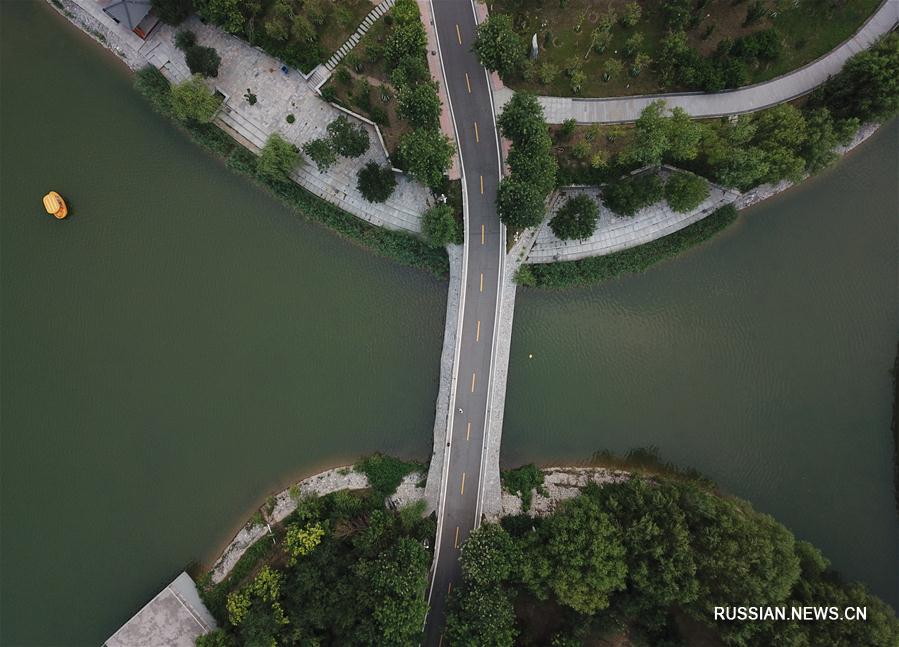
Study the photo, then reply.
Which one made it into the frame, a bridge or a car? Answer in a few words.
bridge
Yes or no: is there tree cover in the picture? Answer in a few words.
Yes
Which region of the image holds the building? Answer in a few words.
top left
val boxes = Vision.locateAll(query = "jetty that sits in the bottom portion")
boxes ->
[100,567,225,647]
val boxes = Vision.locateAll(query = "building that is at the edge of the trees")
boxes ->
[102,0,160,42]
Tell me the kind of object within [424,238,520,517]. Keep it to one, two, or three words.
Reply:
bridge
